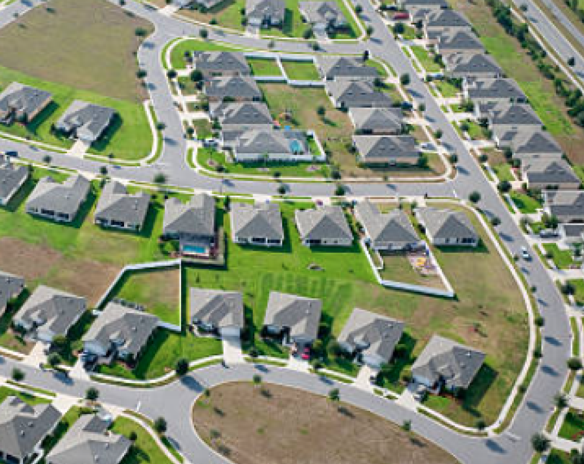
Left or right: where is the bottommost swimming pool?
left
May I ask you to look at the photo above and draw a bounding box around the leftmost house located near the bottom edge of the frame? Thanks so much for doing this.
[0,398,65,464]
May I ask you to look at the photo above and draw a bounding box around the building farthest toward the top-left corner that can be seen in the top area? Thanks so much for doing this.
[0,83,51,121]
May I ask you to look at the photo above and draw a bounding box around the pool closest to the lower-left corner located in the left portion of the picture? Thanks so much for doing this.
[179,233,213,257]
